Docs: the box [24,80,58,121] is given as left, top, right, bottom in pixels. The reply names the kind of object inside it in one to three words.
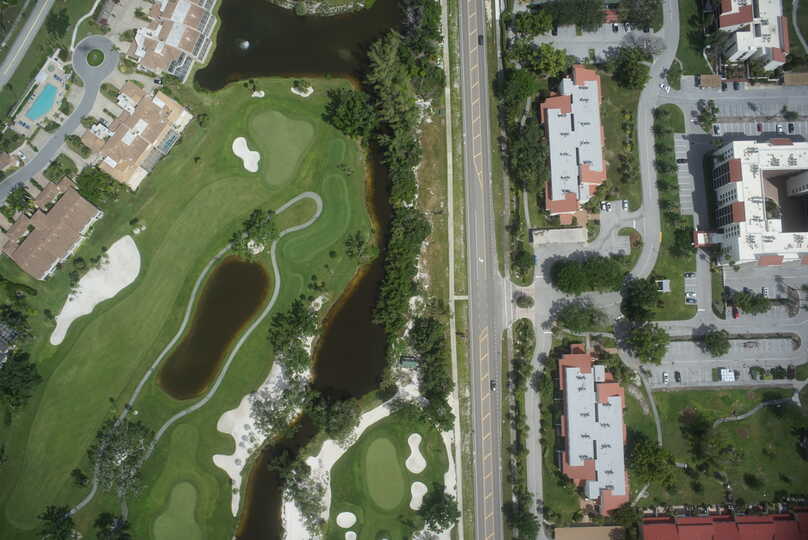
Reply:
swimming pool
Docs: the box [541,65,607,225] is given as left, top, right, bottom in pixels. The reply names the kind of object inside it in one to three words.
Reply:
building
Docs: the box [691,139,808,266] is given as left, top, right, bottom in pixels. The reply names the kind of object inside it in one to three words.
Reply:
building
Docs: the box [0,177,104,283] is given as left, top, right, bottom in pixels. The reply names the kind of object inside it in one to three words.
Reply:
house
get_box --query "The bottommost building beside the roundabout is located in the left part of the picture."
[81,81,196,193]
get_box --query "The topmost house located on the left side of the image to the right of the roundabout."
[128,0,219,76]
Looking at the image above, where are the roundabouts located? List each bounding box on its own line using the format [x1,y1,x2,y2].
[71,34,118,79]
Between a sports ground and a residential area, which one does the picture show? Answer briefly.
residential area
